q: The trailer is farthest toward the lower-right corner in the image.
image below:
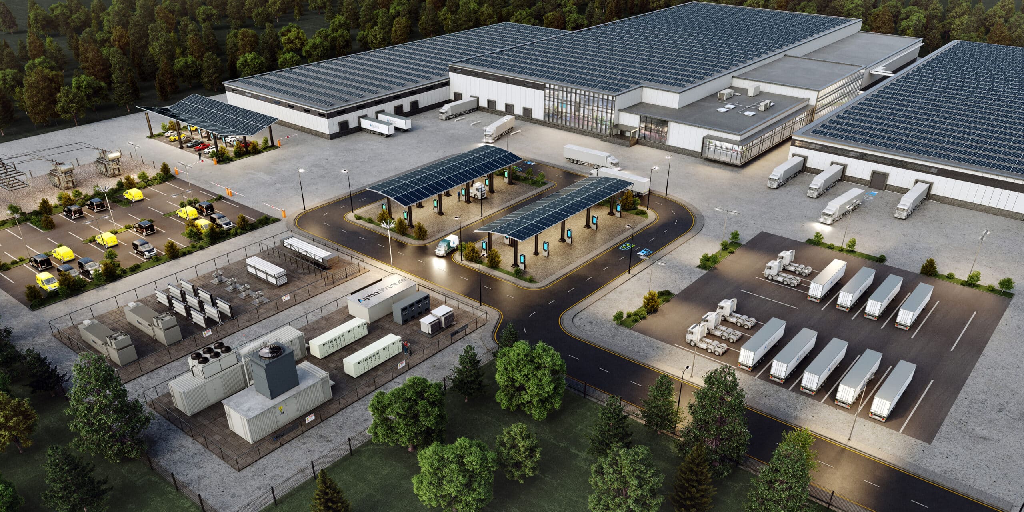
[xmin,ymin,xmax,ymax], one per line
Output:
[870,360,917,420]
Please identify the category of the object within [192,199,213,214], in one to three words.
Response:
vehicle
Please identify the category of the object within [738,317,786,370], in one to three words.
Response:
trailer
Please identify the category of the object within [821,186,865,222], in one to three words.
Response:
truck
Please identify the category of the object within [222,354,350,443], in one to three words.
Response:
shipping container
